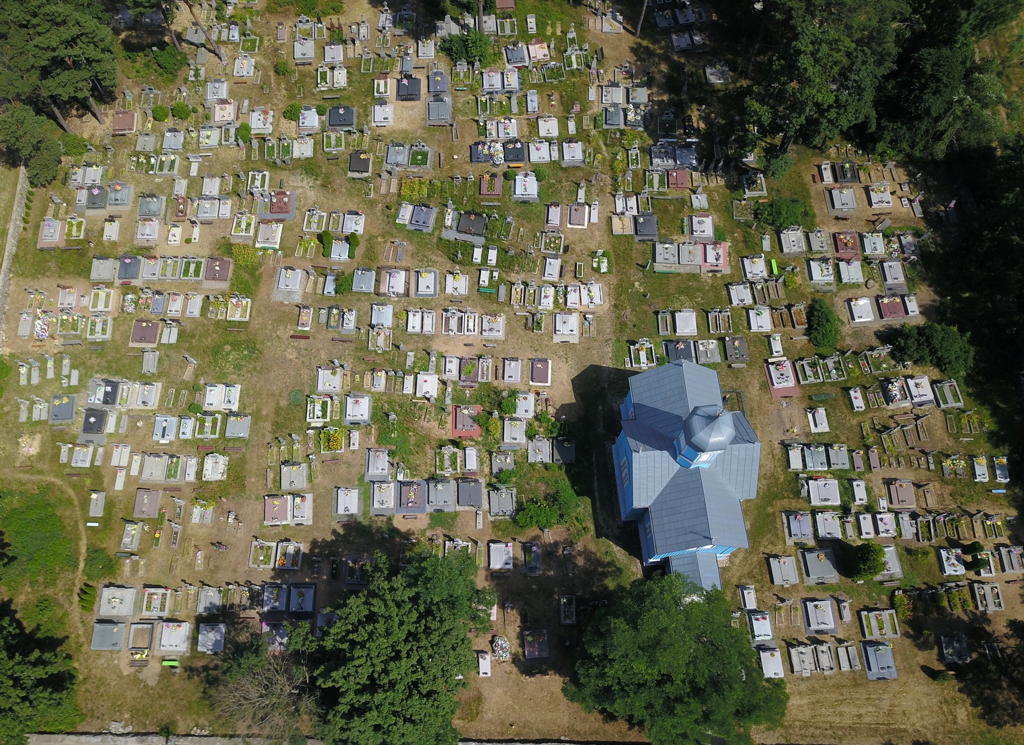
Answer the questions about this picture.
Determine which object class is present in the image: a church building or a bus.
church building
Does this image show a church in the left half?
No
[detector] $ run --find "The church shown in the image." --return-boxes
[612,357,761,610]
